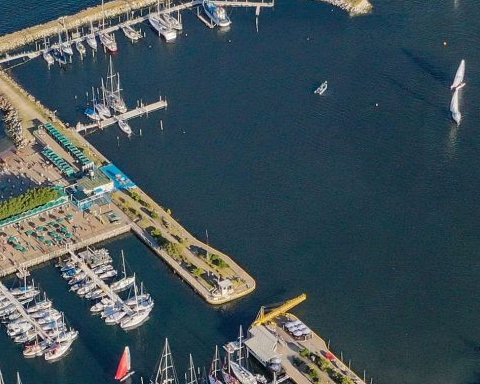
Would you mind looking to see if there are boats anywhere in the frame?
Yes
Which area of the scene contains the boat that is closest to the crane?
bottom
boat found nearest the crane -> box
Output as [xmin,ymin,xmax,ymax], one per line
[231,307,260,384]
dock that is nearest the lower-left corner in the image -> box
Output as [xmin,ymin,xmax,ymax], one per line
[0,277,59,346]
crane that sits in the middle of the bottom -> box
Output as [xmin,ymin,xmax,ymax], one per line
[250,292,306,326]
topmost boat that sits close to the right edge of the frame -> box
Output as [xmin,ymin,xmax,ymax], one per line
[447,59,469,91]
